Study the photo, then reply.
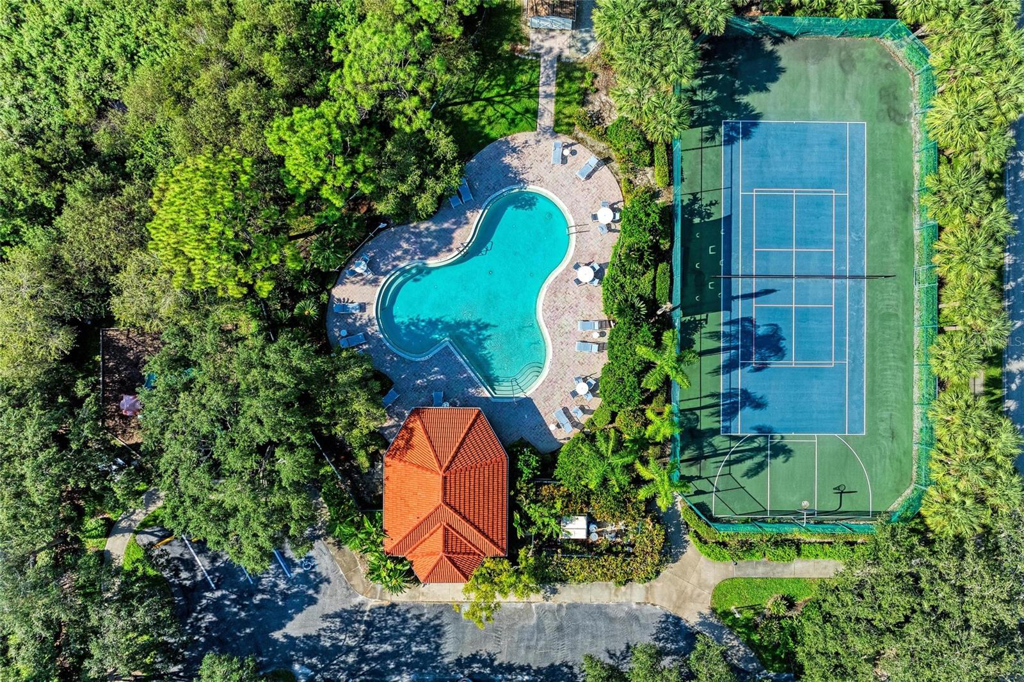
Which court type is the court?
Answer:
tennis court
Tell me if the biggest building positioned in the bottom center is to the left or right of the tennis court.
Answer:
to its left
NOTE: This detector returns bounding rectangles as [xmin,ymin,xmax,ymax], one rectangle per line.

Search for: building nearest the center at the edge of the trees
[382,406,509,586]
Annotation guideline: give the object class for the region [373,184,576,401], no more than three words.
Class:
swimming pool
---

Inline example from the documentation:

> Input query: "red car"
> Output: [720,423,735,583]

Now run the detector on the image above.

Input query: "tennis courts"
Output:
[671,38,912,518]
